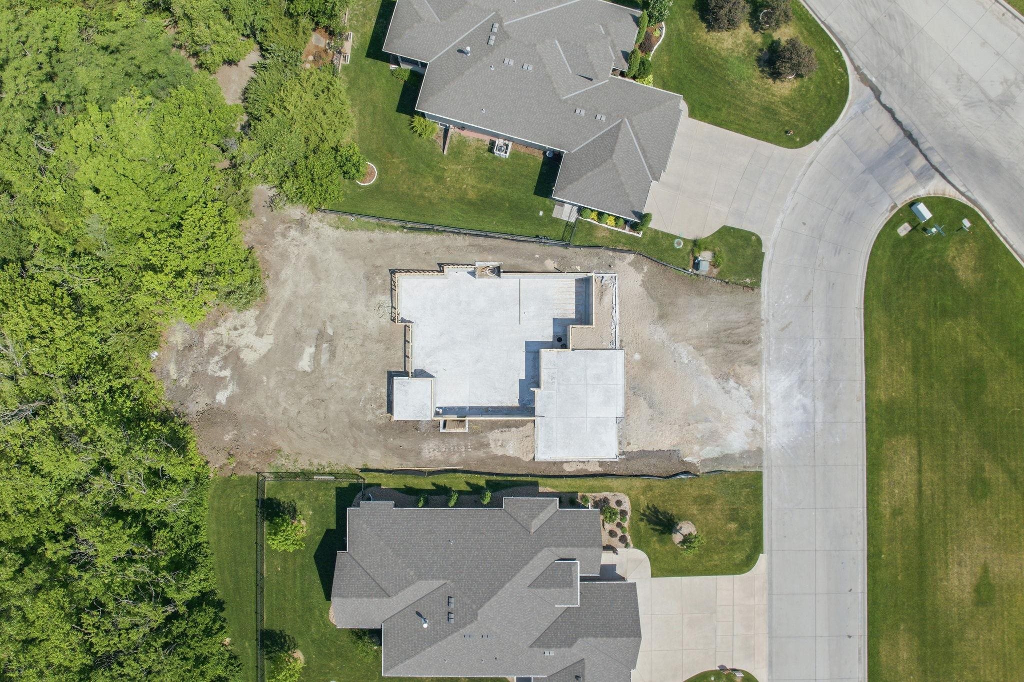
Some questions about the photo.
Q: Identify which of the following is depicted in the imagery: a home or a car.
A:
home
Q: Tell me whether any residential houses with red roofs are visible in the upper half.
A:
No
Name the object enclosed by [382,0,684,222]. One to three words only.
house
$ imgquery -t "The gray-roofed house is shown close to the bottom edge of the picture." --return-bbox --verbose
[332,495,642,682]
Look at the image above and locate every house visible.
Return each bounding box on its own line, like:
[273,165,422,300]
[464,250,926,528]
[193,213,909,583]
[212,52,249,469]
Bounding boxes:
[332,495,642,682]
[382,0,684,222]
